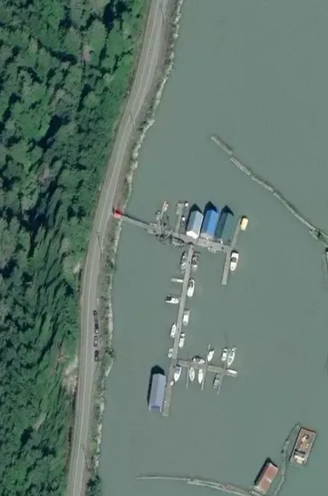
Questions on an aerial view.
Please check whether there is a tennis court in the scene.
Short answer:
No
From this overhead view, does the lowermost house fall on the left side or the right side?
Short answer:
right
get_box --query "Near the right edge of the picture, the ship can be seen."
[290,429,316,466]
